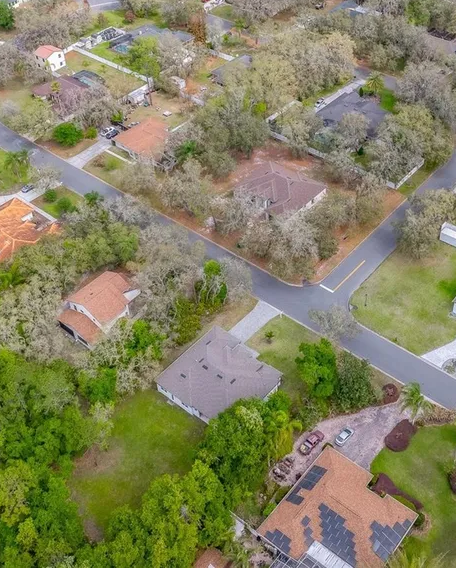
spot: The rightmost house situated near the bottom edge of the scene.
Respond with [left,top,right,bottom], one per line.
[254,443,419,568]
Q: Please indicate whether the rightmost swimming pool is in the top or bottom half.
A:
top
